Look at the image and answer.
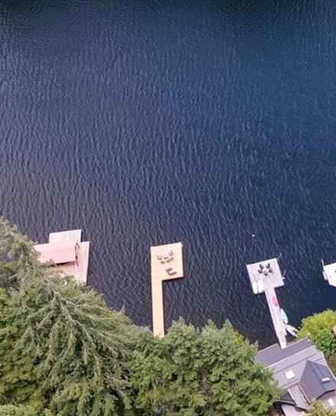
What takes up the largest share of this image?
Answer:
water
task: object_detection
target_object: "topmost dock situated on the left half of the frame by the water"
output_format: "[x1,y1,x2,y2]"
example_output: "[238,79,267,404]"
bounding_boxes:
[30,229,91,288]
